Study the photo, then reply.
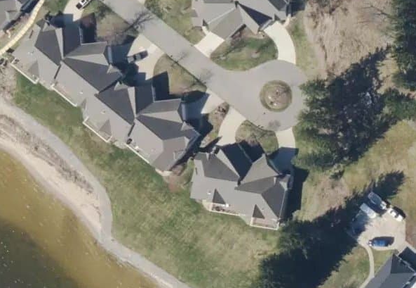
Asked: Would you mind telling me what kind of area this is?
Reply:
residential area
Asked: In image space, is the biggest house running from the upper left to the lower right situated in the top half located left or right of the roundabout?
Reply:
to its left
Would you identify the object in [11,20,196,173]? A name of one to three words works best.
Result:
house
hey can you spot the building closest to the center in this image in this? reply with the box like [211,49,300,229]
[188,143,290,230]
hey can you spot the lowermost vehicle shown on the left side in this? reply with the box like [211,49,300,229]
[127,49,147,63]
